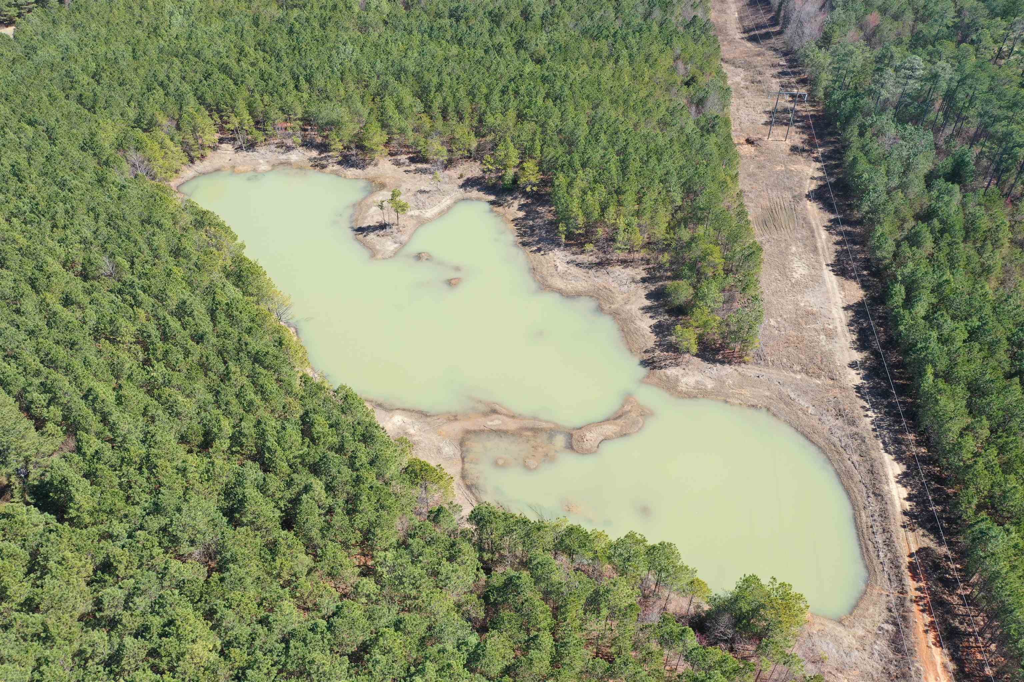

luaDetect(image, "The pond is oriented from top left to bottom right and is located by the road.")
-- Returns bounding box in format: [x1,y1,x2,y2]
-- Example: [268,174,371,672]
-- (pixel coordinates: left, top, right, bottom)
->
[182,170,861,613]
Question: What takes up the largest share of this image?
trees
